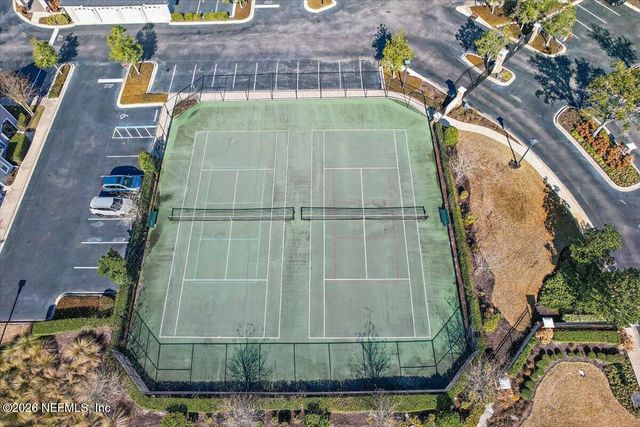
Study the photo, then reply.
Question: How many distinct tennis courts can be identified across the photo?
2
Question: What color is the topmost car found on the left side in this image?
blue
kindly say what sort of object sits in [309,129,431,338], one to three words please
tennis court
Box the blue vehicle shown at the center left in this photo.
[99,171,139,192]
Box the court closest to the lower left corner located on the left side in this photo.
[159,130,289,338]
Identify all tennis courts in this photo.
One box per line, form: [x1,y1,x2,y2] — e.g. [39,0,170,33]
[159,130,289,338]
[309,129,431,338]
